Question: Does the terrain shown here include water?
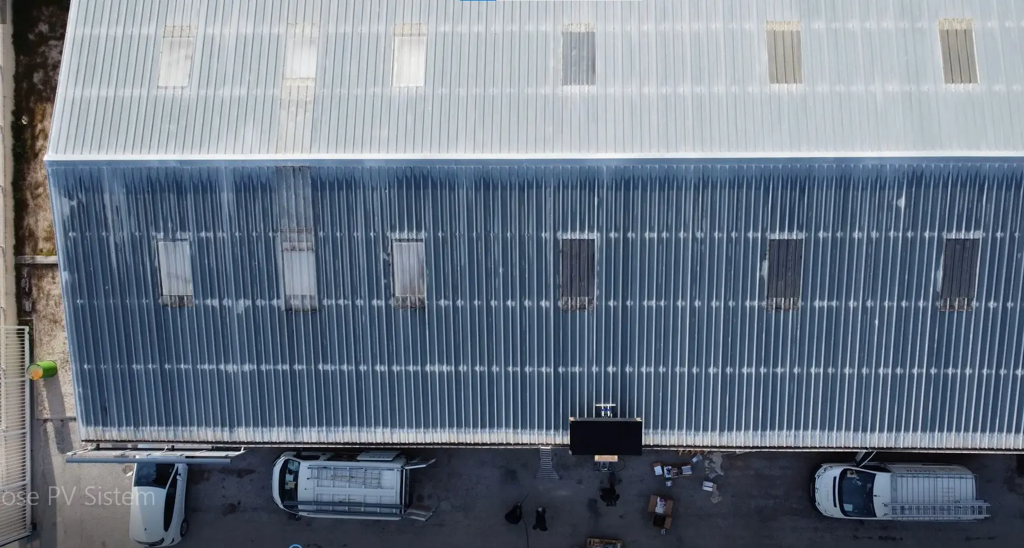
No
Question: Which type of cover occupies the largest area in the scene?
buildings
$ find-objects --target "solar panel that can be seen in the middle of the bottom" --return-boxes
[570,417,642,456]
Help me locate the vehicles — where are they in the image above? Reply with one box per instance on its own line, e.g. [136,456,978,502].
[811,451,981,527]
[127,448,194,548]
[270,450,431,523]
